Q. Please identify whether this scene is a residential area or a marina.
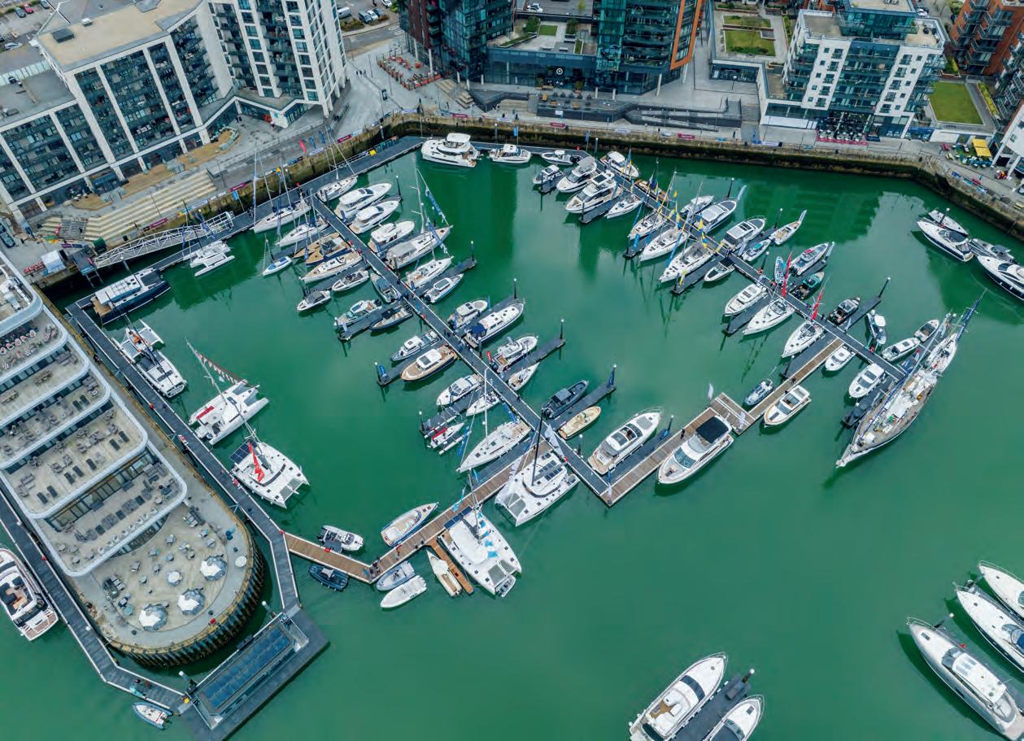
marina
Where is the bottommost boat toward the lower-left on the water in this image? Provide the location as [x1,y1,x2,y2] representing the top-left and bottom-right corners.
[131,701,172,729]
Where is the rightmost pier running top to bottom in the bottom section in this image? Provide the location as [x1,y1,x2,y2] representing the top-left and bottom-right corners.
[270,533,299,607]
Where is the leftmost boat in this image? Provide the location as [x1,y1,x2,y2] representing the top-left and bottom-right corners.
[0,540,58,643]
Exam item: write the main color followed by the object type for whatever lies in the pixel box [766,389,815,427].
white boat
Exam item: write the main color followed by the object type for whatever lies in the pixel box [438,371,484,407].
white boat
